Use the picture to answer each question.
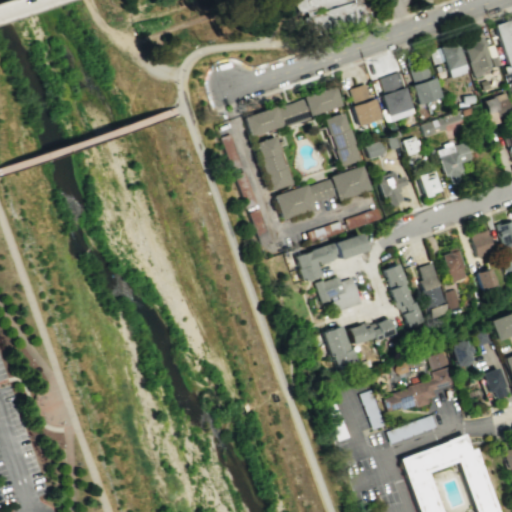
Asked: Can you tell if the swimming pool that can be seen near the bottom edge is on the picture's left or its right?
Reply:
right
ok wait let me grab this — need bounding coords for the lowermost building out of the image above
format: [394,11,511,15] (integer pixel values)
[404,435,504,512]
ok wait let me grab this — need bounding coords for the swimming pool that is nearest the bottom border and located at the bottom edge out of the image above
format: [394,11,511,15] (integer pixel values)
[444,480,464,508]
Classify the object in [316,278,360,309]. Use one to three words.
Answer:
building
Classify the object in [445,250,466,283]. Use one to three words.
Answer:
house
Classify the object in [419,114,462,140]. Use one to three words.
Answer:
house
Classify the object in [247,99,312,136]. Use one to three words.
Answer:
building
